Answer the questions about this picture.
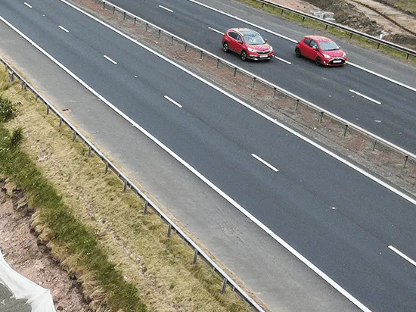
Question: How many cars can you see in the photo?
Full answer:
Altogether the scene contains 2 cars.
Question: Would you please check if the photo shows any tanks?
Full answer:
No, no tank is visible in the scene.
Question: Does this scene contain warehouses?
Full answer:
No, there's no warehouse here.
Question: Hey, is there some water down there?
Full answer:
No, the picture contains no water.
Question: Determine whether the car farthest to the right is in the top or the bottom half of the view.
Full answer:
The car farthest to the right sits in the top half of the picture.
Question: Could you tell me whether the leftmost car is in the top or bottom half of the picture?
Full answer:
You can find the leftmost car in the top half.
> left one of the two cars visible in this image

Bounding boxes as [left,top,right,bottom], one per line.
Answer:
[222,25,284,61]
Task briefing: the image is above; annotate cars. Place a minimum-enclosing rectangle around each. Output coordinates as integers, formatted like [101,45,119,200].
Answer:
[222,25,284,61]
[293,32,353,66]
